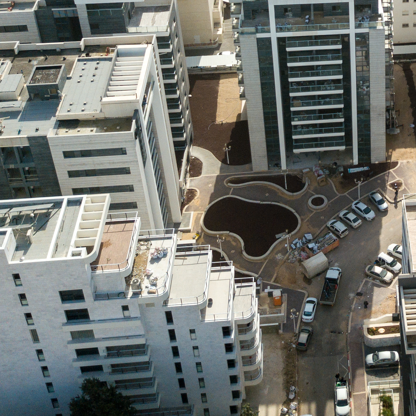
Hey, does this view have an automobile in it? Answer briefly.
Yes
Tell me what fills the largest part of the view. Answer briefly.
buildings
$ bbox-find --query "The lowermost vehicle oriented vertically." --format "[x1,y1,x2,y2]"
[335,382,351,416]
